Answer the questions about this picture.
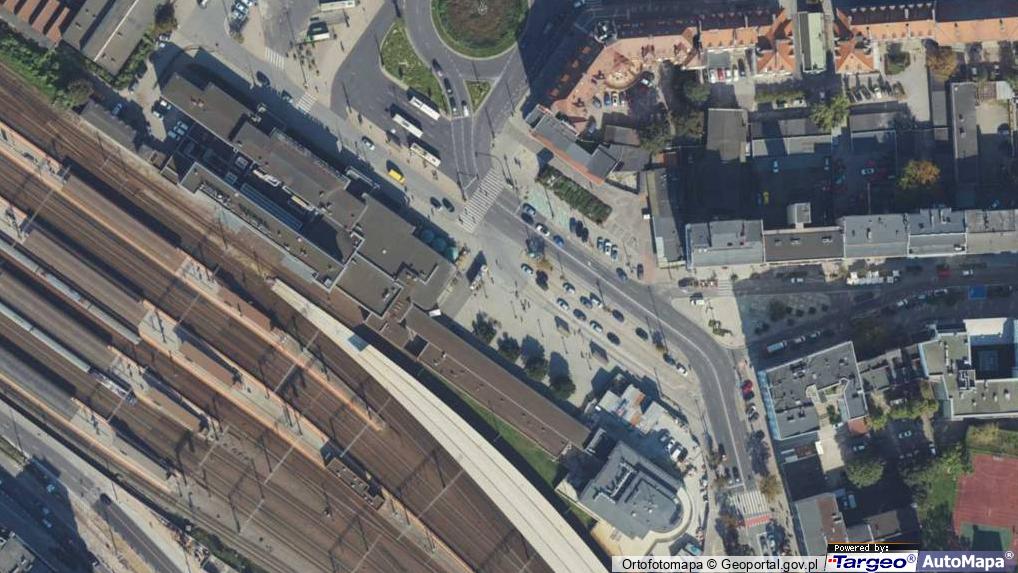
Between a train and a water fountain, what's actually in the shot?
train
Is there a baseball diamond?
No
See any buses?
Yes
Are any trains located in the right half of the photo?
No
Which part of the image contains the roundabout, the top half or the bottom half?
top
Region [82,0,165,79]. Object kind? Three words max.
building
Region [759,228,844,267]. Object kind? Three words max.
house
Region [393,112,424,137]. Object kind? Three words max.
bus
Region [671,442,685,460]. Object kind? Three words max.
vehicle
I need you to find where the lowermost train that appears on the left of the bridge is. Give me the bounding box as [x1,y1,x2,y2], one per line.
[0,301,134,404]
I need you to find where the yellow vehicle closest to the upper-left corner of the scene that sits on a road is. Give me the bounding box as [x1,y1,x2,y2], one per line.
[387,167,406,183]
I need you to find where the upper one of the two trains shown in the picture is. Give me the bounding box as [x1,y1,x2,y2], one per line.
[0,236,141,343]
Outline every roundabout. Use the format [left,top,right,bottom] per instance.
[401,0,560,90]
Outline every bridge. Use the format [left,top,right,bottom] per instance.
[256,271,608,573]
